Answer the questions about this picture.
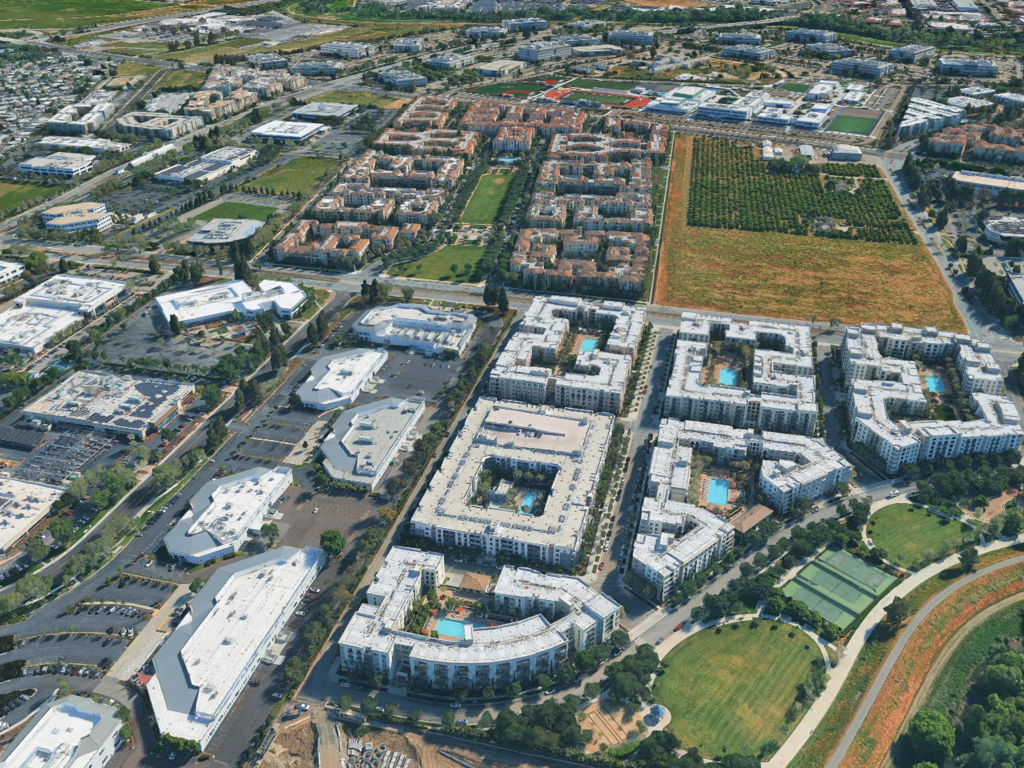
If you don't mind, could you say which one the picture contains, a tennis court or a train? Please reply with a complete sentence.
This aerial view contains a tennis court.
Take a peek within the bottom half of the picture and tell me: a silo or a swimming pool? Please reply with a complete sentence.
Visible within the bottom half of the picture is a swimming pool.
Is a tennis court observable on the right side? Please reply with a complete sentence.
Yes, I can see a tennis court on the right side.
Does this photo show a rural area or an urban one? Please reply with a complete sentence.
The area shown here is urban.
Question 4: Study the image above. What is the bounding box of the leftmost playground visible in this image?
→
[576,701,644,753]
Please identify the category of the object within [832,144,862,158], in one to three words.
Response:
barn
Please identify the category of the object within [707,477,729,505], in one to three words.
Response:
swimming pool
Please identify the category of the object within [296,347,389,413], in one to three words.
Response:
building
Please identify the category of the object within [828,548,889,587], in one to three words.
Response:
tennis court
